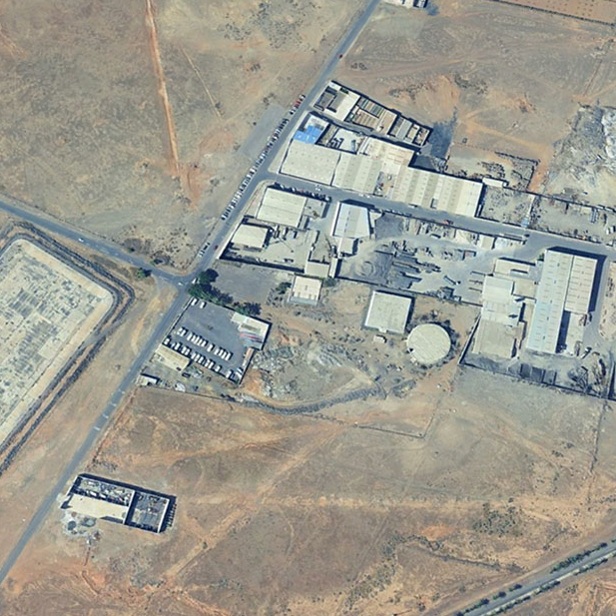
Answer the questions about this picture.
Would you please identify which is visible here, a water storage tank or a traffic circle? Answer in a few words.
water storage tank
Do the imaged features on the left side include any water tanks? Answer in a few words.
No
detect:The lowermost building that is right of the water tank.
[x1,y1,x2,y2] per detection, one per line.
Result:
[473,320,517,359]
